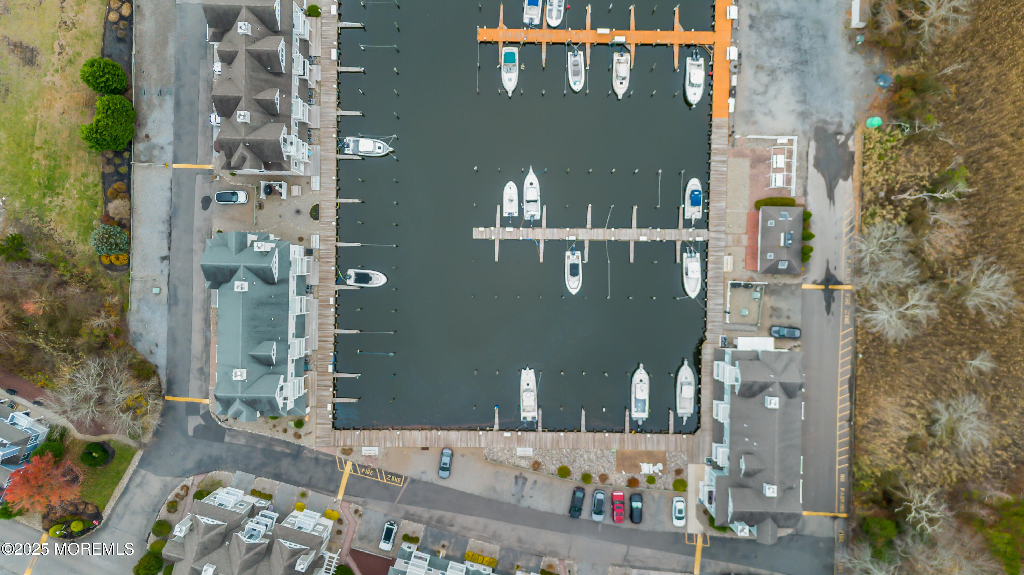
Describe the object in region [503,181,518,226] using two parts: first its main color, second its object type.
white boat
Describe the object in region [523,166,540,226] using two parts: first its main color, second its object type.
white boat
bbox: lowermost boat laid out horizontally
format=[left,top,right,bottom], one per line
[343,270,388,287]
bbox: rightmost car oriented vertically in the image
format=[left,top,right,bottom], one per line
[672,497,687,527]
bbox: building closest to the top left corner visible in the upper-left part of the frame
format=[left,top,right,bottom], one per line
[202,0,317,175]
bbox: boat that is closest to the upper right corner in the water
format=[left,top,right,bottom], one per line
[684,52,704,108]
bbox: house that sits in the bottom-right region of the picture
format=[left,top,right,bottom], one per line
[694,348,805,545]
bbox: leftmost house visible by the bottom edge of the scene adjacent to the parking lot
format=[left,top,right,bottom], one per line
[155,482,336,575]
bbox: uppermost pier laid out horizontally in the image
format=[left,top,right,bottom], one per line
[477,2,714,71]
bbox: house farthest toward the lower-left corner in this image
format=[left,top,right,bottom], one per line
[0,391,48,492]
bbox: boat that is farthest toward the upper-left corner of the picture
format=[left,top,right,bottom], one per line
[340,136,394,156]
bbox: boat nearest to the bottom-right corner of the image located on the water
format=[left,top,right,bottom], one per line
[675,358,694,424]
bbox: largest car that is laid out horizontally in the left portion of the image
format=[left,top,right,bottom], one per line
[215,189,248,204]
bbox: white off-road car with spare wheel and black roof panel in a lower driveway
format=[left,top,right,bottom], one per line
[379,520,397,552]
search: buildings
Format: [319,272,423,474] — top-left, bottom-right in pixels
[381,537,494,575]
[155,482,336,575]
[202,0,317,175]
[694,348,805,545]
[200,231,313,423]
[851,0,871,28]
[0,391,48,492]
[746,206,803,273]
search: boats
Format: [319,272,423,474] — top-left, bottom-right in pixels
[503,181,518,226]
[684,52,704,108]
[523,166,540,226]
[520,365,537,429]
[568,48,585,92]
[684,178,702,228]
[631,362,649,426]
[343,270,388,287]
[546,0,564,27]
[523,0,541,28]
[340,136,394,156]
[565,245,582,295]
[682,247,701,299]
[675,358,694,424]
[612,49,629,99]
[501,47,518,97]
